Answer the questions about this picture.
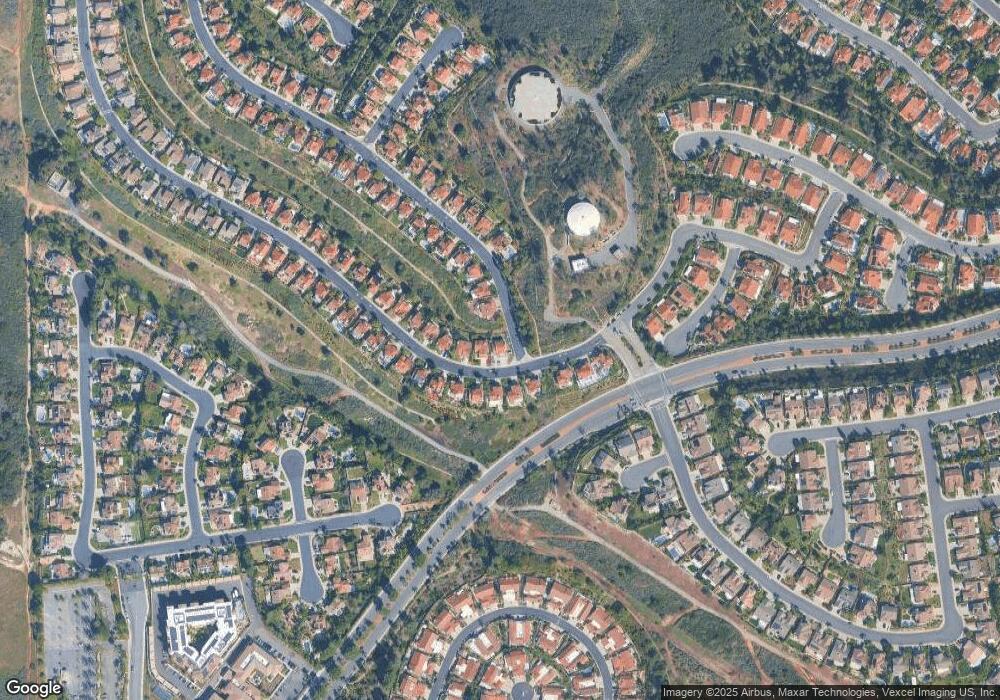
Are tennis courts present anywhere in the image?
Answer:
No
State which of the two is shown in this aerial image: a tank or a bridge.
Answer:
tank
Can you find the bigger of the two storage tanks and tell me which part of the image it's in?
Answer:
top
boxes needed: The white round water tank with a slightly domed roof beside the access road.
[567,202,602,235]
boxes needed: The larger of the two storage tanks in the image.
[504,63,559,126]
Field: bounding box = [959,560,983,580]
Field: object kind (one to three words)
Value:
house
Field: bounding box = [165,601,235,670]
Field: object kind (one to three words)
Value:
building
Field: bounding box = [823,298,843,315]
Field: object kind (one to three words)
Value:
swimming pool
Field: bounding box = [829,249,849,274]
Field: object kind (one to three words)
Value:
house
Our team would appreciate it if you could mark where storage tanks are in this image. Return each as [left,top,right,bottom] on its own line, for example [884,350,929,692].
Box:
[567,202,602,235]
[504,63,559,126]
